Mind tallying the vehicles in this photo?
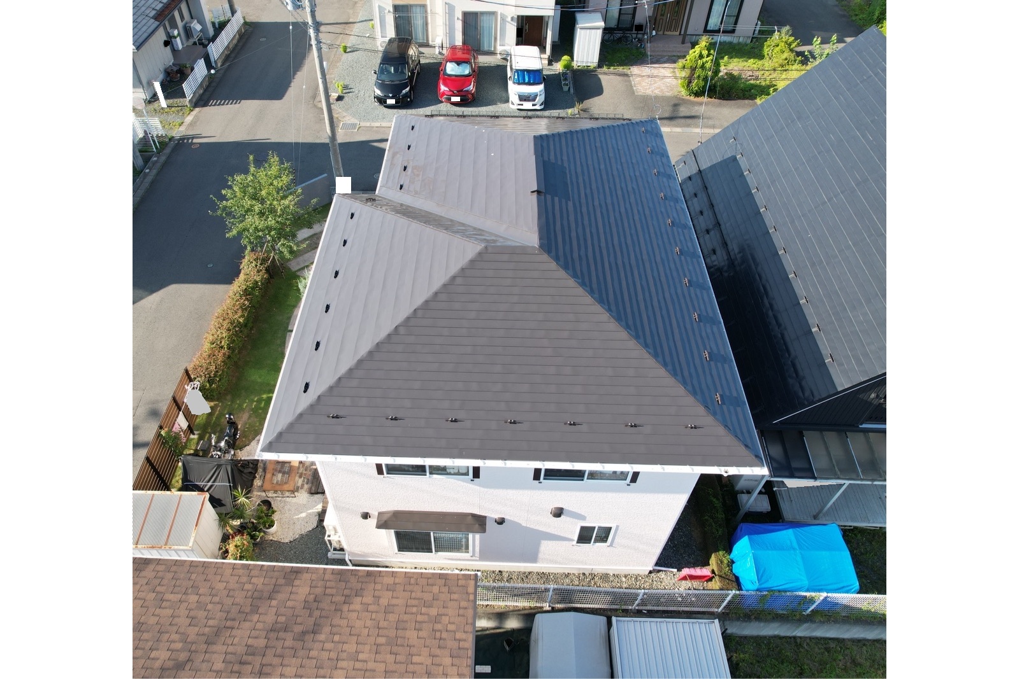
4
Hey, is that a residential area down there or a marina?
residential area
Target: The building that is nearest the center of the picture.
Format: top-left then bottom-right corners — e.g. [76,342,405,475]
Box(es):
[256,108,768,583]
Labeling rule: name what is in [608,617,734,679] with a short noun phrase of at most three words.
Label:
shed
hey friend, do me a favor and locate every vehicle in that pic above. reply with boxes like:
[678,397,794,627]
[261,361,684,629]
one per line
[369,34,418,106]
[506,45,550,109]
[434,46,480,105]
[194,388,247,454]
